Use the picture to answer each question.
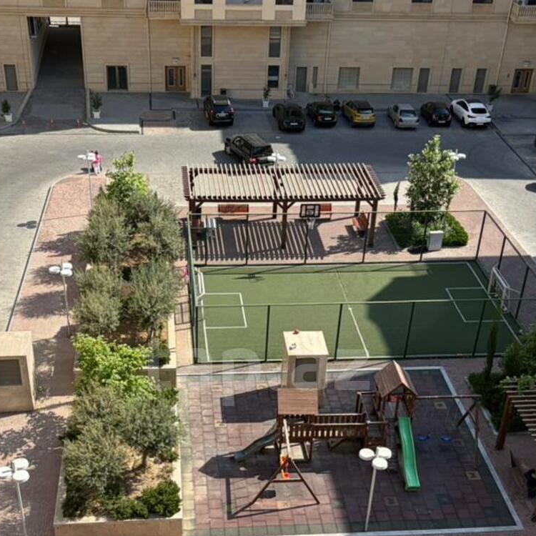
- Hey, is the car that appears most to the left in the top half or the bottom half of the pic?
top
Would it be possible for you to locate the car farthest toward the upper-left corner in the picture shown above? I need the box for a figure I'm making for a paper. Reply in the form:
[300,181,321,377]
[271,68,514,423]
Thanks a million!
[205,94,234,123]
